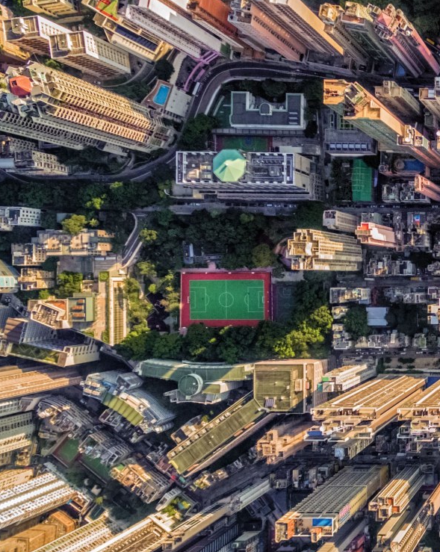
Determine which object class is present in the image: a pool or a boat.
pool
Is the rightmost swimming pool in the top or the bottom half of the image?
top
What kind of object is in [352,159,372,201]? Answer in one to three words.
sports court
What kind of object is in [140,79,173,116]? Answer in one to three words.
swimming pool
